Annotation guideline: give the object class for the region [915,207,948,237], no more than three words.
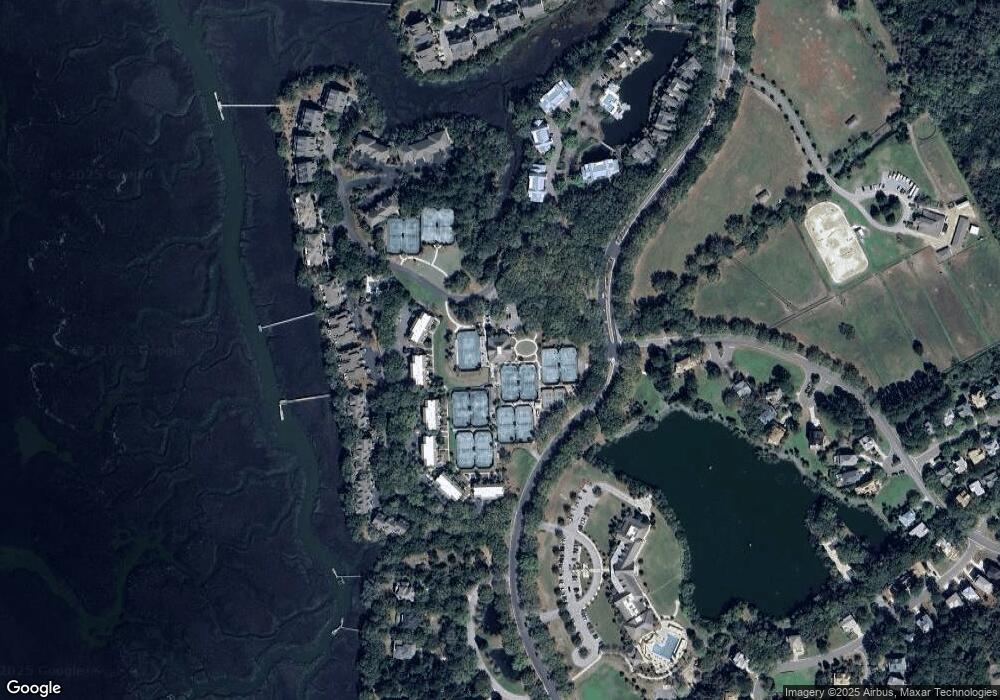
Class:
building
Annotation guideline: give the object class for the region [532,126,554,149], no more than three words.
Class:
house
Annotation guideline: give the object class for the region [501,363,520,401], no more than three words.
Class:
tennis court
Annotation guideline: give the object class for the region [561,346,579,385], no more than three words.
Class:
tennis court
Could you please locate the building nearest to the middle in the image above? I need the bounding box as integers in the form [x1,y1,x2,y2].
[487,333,514,364]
